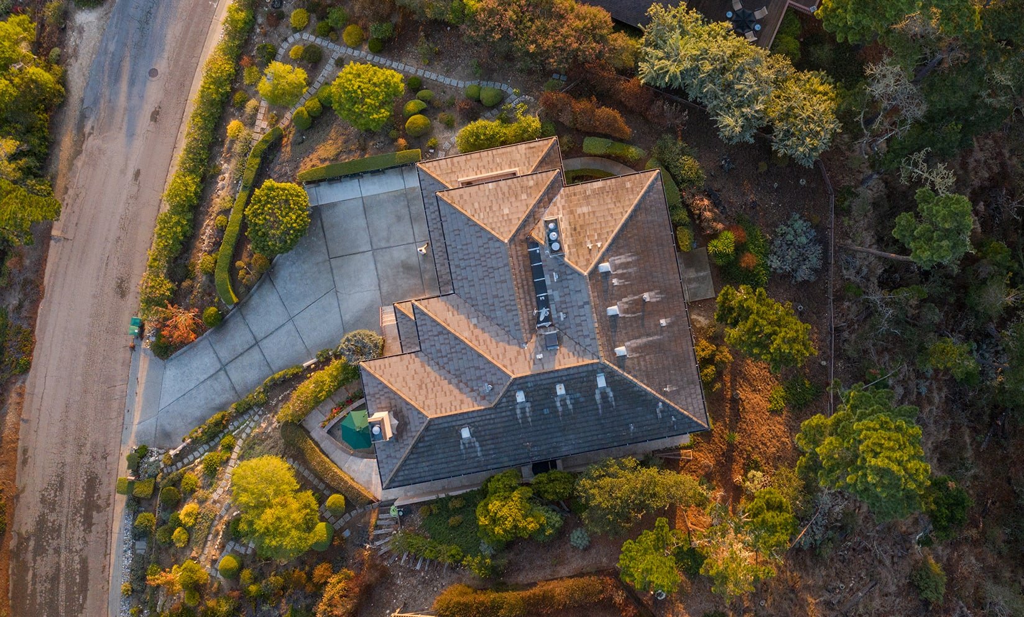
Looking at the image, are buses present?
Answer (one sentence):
No, I find no bus anywhere in the image.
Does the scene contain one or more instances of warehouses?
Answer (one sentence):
No, there isn't any warehouse down there.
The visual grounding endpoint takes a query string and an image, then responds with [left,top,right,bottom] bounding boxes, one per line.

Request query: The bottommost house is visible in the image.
[357,135,711,491]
